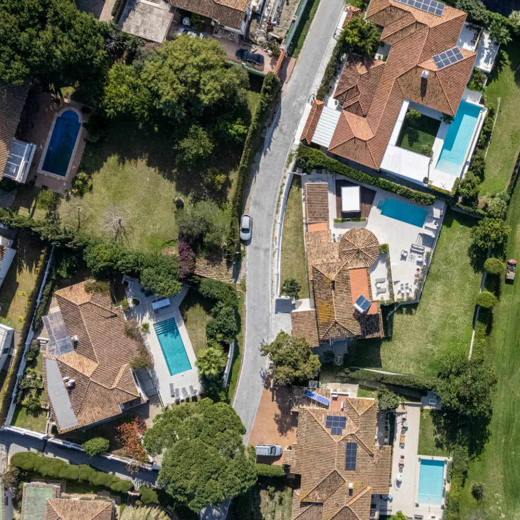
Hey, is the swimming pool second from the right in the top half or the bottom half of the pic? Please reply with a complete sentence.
The bottom half of the photo is where the swimming pool second from the right is.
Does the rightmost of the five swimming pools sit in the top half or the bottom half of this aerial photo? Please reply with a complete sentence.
The rightmost of the five swimming pools is in the top half of the image.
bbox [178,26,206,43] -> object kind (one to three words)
car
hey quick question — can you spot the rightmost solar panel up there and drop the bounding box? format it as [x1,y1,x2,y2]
[432,46,464,68]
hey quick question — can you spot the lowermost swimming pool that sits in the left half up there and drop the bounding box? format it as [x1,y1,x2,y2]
[152,316,194,378]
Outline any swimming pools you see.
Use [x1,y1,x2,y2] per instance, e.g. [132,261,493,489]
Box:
[434,99,483,178]
[152,316,194,378]
[37,107,83,180]
[415,457,448,508]
[375,197,430,229]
